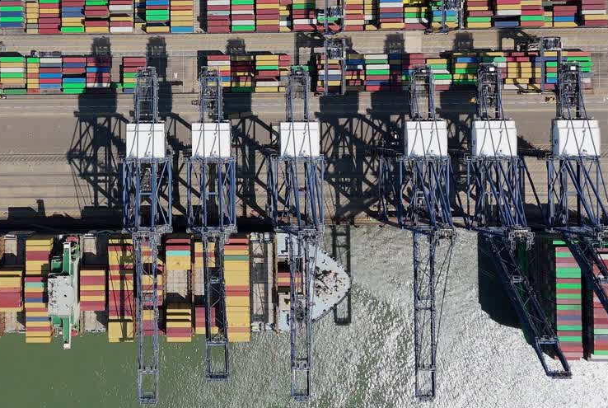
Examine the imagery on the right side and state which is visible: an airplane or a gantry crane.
gantry crane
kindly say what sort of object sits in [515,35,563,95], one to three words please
container crane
